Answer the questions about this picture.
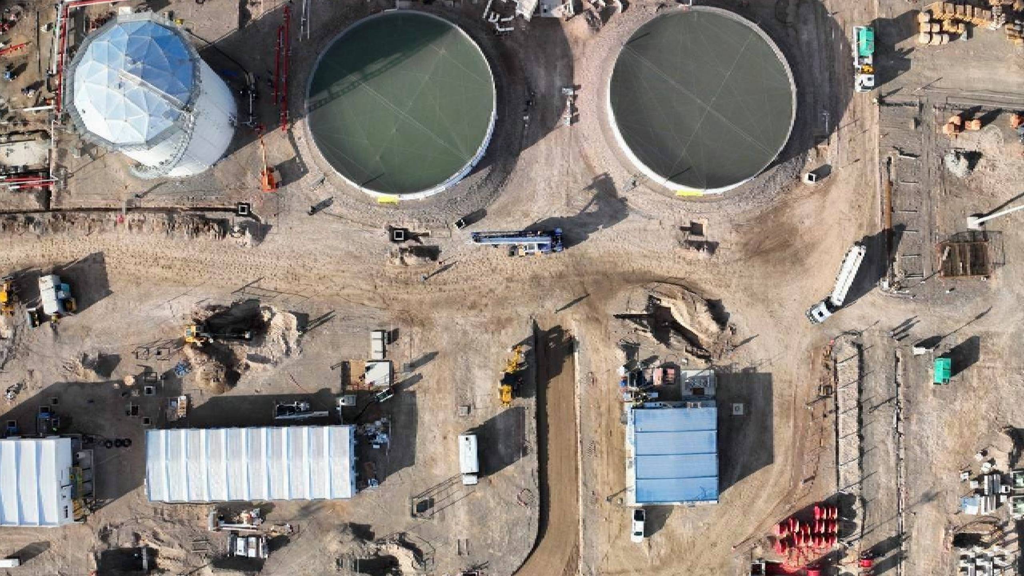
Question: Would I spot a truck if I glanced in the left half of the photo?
Yes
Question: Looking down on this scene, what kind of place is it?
industrial area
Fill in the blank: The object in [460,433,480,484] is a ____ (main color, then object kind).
white vehicle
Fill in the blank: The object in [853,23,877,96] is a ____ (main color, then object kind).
white truck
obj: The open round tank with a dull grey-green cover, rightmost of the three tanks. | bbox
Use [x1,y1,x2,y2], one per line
[602,0,798,204]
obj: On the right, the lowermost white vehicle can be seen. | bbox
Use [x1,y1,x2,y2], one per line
[632,509,646,542]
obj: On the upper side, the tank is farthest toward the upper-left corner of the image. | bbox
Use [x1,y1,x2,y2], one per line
[59,11,239,173]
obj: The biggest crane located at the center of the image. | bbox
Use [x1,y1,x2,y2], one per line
[470,223,564,262]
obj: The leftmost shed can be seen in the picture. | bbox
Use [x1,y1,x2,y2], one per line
[0,433,75,528]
